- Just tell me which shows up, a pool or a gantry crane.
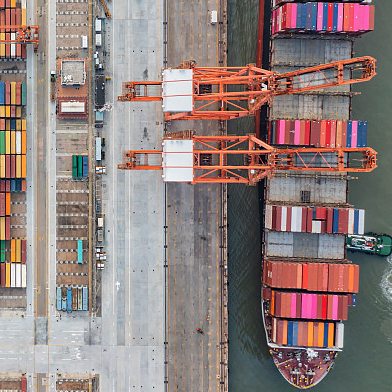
gantry crane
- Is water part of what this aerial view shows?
Yes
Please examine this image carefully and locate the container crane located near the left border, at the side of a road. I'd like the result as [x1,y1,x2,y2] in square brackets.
[0,23,41,51]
